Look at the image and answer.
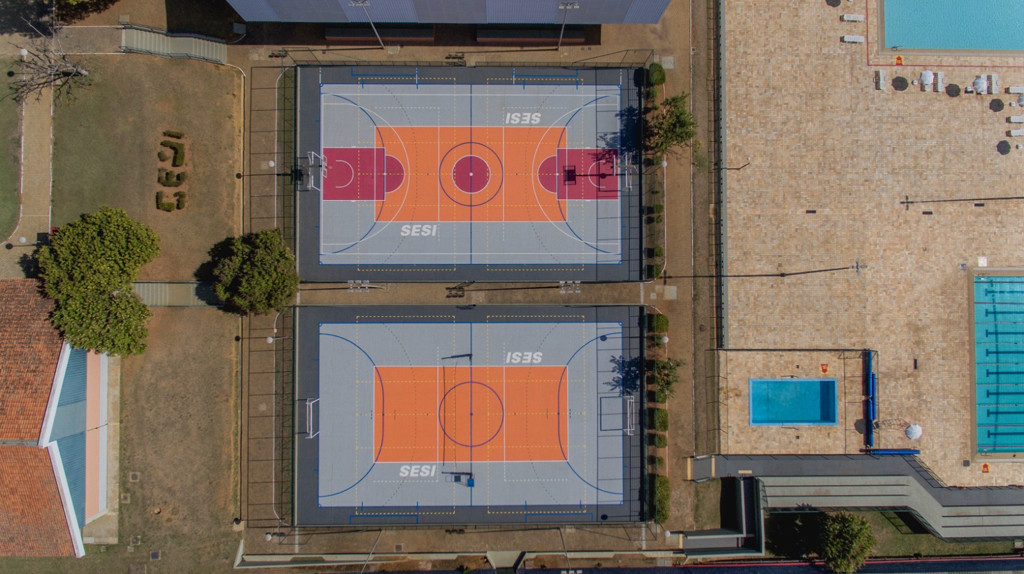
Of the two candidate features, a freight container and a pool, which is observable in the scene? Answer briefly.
pool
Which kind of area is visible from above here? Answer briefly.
sports ground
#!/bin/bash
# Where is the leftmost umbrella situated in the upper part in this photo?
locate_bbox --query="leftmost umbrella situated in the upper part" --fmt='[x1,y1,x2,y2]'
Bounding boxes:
[915,69,936,85]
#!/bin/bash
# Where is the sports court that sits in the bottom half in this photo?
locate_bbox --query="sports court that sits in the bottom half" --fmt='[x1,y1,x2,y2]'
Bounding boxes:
[298,307,643,524]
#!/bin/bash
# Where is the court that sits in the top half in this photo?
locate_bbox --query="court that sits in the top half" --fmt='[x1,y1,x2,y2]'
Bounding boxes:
[299,66,643,280]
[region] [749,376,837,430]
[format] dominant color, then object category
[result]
blue swimming pool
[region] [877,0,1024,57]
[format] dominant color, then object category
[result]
blue swimming pool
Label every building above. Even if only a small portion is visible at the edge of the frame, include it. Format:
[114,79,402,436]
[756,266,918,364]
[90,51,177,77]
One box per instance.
[223,0,671,23]
[0,278,108,558]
